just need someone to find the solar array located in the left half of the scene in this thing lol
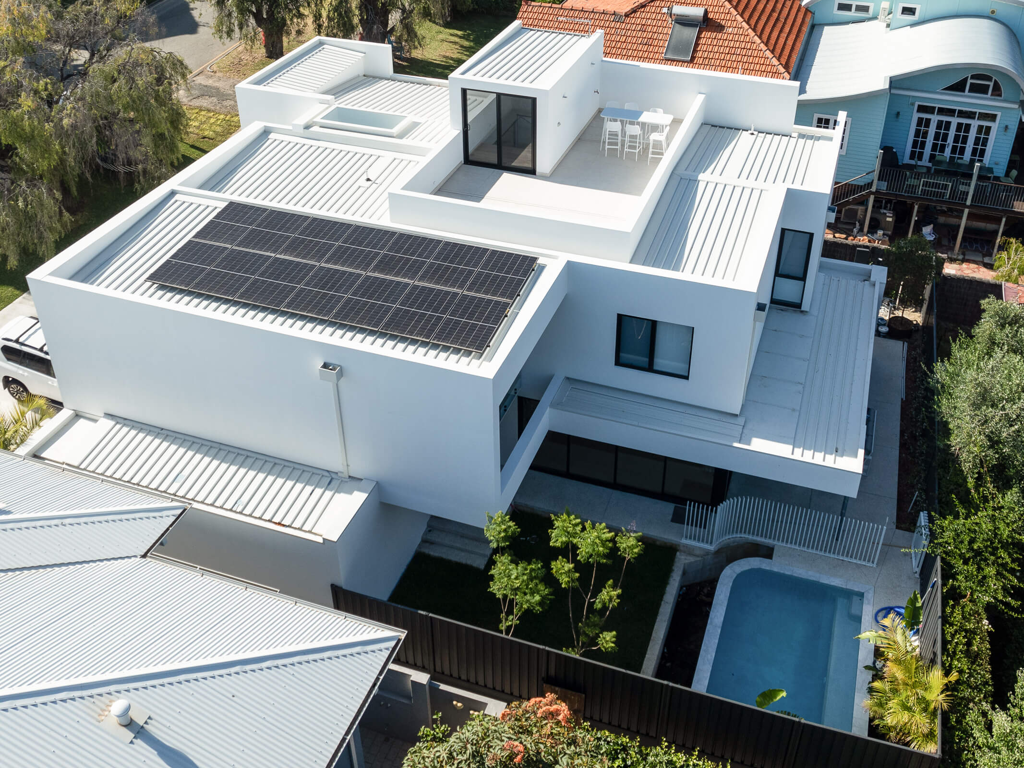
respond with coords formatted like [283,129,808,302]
[144,204,537,349]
